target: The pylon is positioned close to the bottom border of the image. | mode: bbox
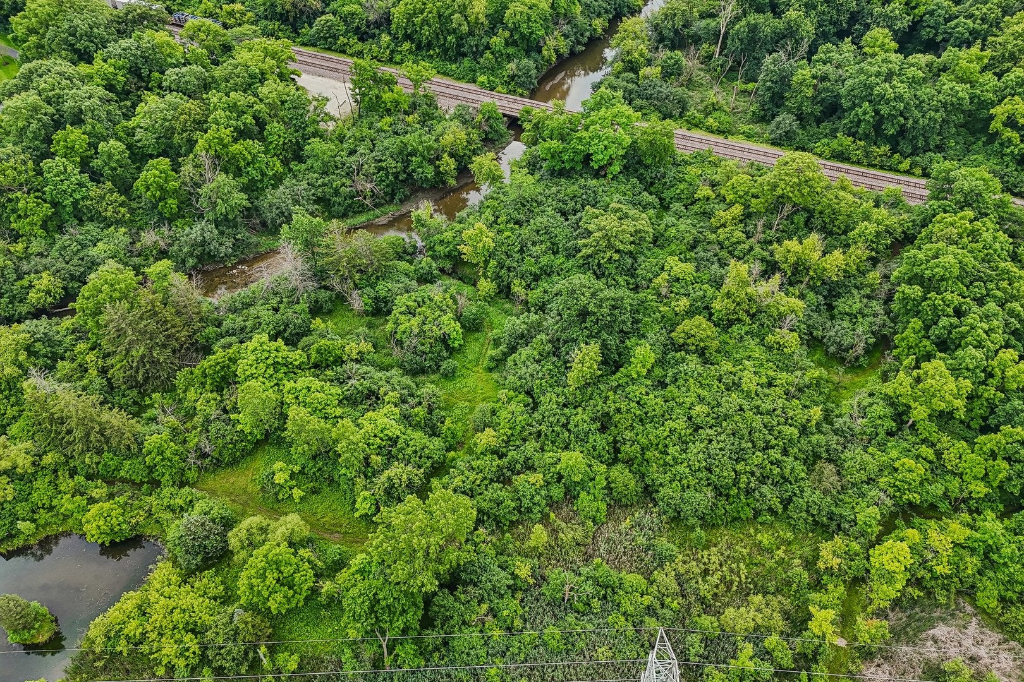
[639,627,683,682]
